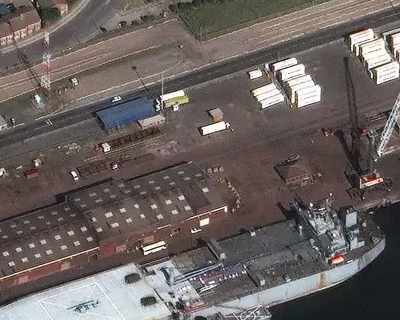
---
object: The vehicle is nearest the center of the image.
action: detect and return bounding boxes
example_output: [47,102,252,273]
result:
[202,122,232,137]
